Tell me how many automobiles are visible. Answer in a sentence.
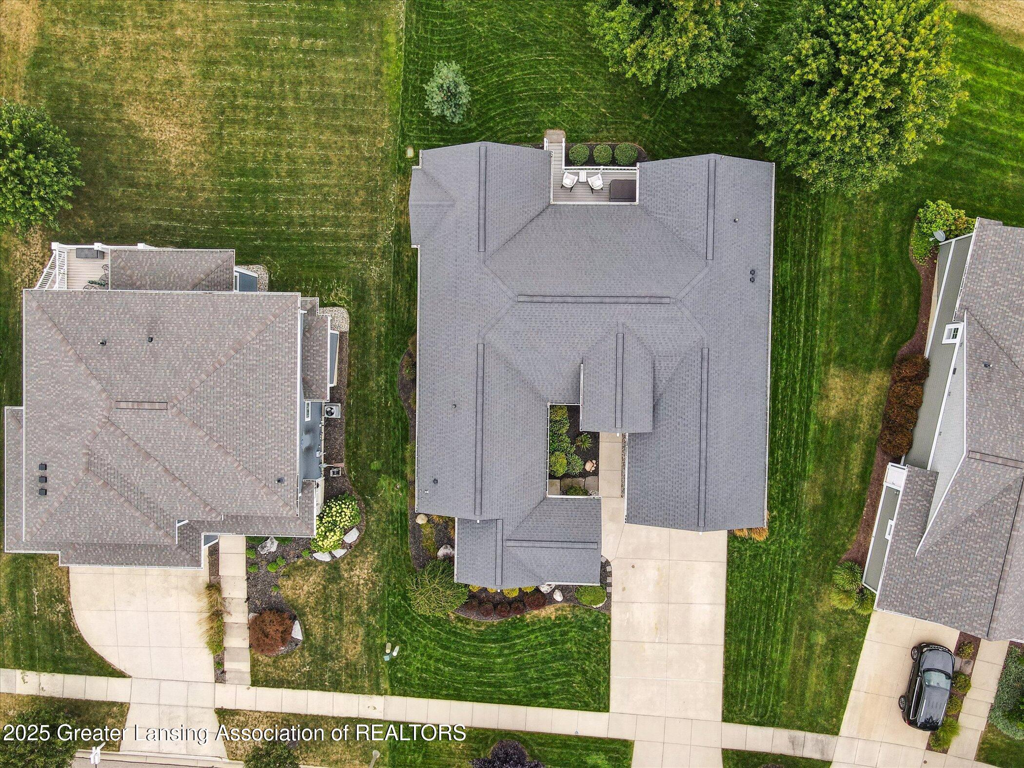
In total, 1 automobile can be seen.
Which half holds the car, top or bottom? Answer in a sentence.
The car is in the bottom half of the image.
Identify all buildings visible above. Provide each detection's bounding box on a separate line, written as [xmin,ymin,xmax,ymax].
[3,248,338,569]
[861,218,1024,645]
[410,141,775,592]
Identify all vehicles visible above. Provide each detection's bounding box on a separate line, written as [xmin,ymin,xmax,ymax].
[897,639,955,733]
